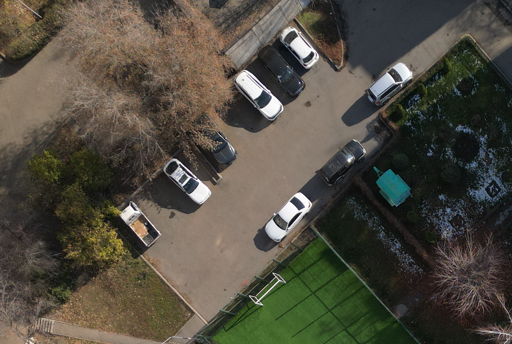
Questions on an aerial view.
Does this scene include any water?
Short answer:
No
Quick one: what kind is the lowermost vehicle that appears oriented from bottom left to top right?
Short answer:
car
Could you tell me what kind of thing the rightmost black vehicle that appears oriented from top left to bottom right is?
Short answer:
automobile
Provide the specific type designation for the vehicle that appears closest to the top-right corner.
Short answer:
automobile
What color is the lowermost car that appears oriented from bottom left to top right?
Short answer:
white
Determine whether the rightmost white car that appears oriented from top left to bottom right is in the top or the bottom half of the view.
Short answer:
top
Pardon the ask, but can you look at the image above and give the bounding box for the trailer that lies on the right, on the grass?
[376,168,411,207]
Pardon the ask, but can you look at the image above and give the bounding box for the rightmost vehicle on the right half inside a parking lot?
[364,59,415,109]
